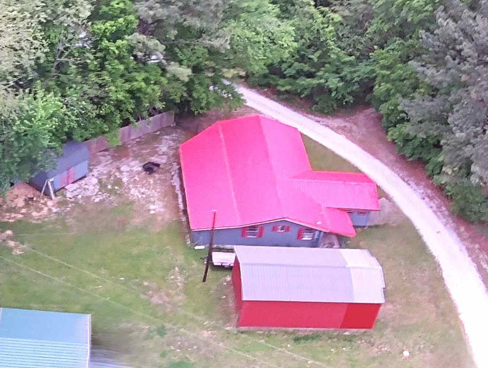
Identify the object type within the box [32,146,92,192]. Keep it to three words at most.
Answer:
shed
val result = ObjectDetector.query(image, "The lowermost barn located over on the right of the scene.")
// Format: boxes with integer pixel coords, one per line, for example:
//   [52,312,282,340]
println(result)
[228,246,386,329]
